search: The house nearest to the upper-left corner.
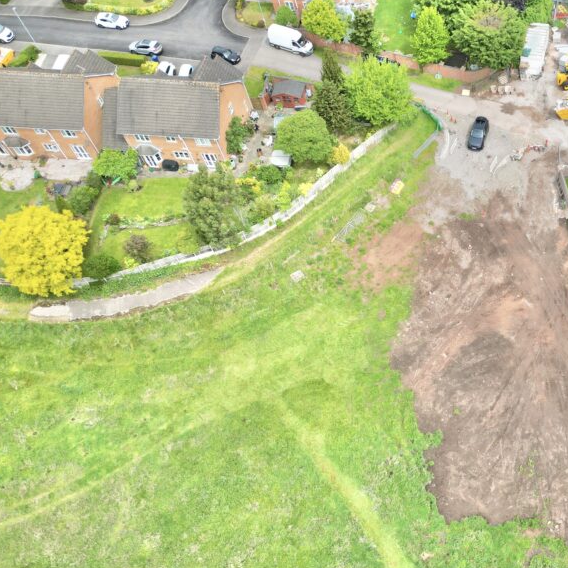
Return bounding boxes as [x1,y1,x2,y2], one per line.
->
[0,49,120,166]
